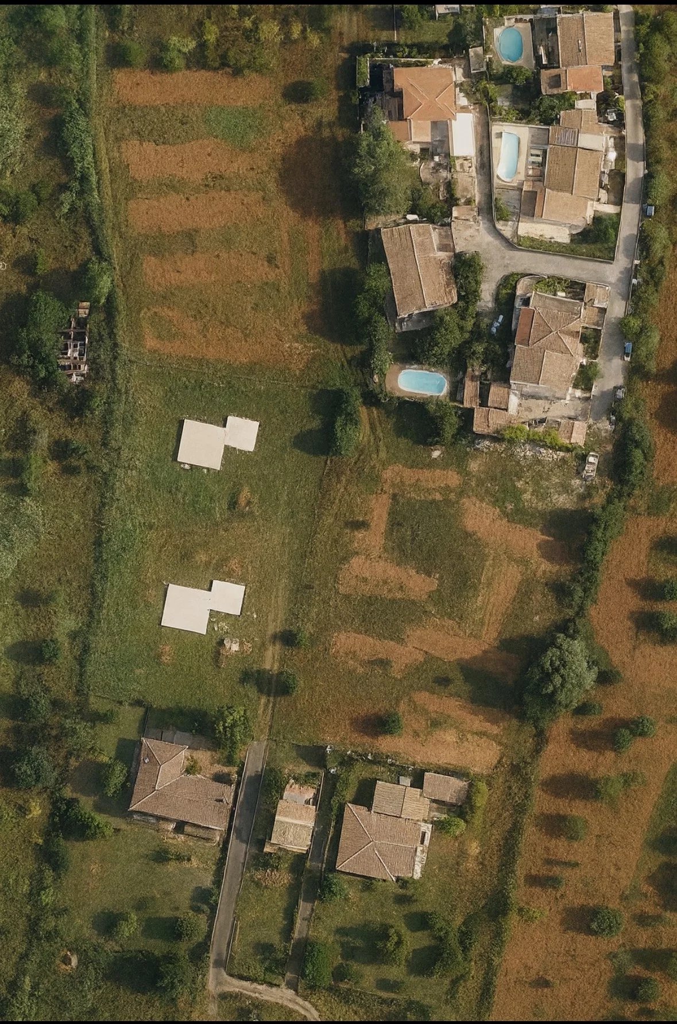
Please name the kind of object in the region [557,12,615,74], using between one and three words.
house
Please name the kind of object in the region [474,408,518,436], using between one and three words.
shed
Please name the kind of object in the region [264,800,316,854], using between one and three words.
house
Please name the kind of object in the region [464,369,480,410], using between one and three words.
shed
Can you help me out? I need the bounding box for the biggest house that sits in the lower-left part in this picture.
[128,738,233,842]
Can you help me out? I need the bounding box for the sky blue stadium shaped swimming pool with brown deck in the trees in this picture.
[396,368,449,396]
